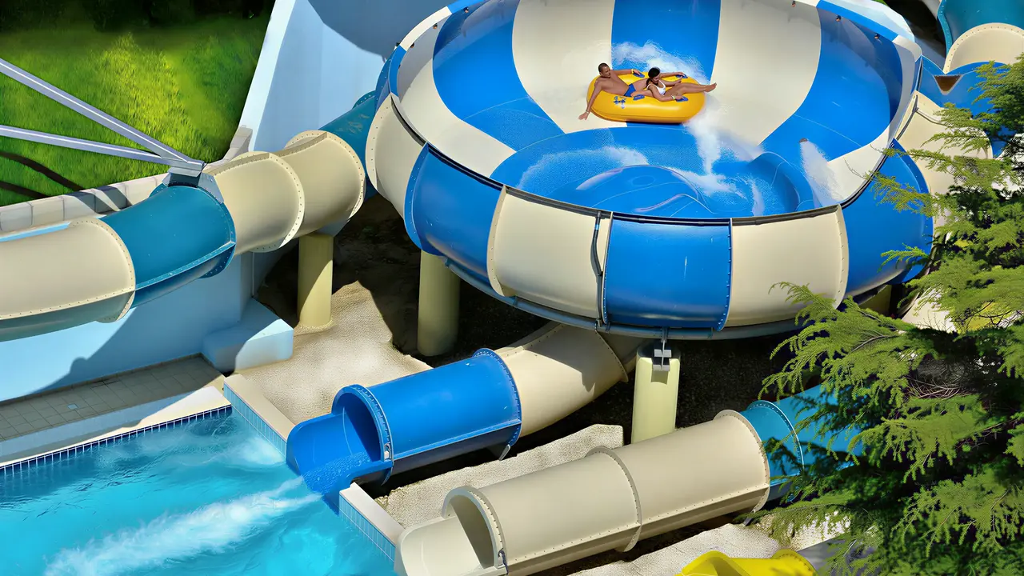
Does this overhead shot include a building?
No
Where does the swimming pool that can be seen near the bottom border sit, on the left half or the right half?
left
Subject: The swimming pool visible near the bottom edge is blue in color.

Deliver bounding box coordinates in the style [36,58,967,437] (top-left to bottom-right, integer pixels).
[0,415,397,576]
